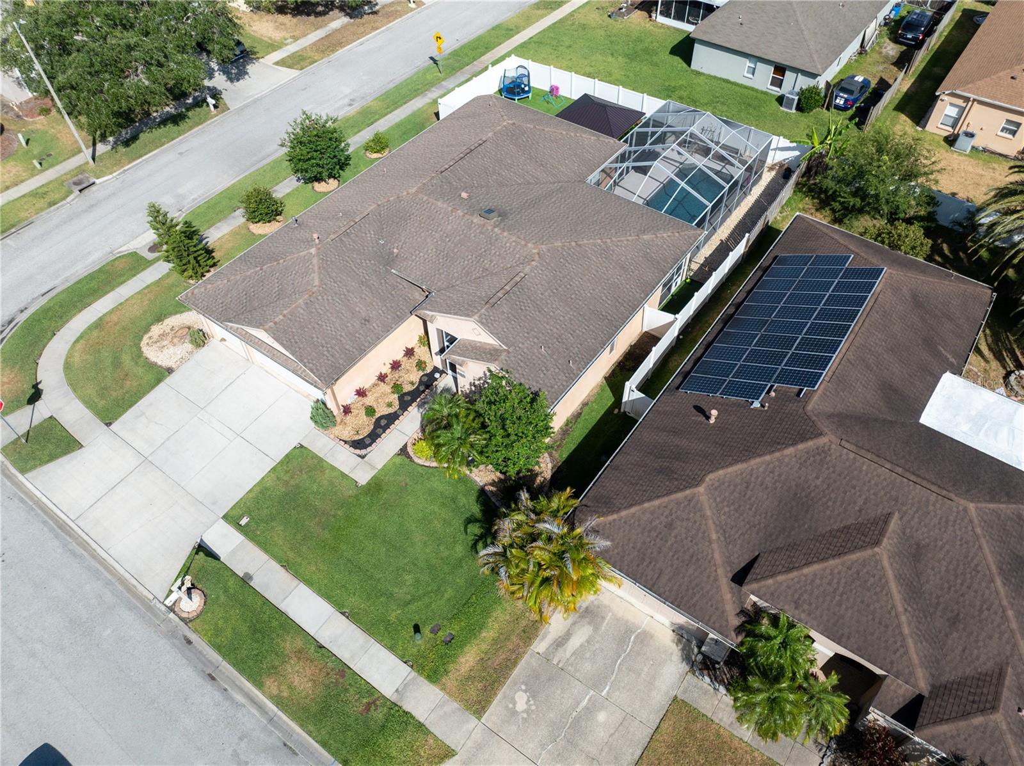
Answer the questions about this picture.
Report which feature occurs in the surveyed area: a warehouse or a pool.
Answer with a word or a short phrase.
pool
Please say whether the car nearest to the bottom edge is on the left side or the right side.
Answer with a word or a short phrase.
right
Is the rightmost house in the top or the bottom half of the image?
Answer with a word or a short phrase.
top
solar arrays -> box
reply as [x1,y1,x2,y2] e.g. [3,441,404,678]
[682,254,882,407]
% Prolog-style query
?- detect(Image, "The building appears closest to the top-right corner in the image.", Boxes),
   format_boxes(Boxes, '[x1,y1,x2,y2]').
[928,0,1024,154]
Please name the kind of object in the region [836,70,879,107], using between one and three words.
car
